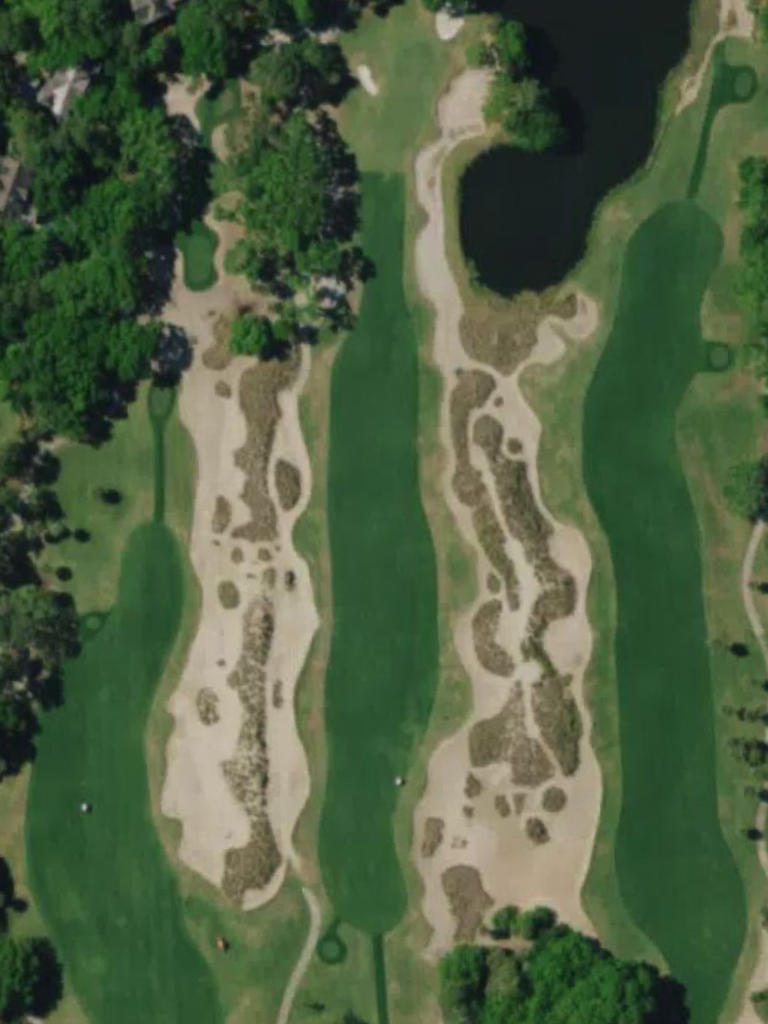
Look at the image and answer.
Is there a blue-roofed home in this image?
No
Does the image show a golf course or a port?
golf course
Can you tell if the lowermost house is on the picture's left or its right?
left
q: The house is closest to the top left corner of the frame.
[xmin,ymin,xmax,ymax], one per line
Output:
[32,67,93,117]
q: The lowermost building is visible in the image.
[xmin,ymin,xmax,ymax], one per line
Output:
[0,159,37,216]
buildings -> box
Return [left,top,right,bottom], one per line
[0,159,37,216]
[127,0,189,25]
[32,67,93,117]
